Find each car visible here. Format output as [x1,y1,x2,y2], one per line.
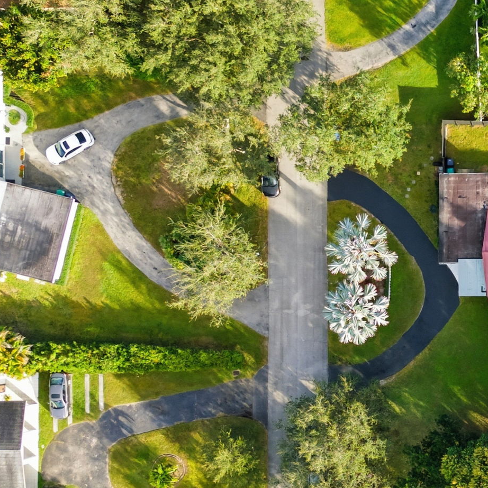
[259,150,282,199]
[47,373,72,419]
[46,128,96,165]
